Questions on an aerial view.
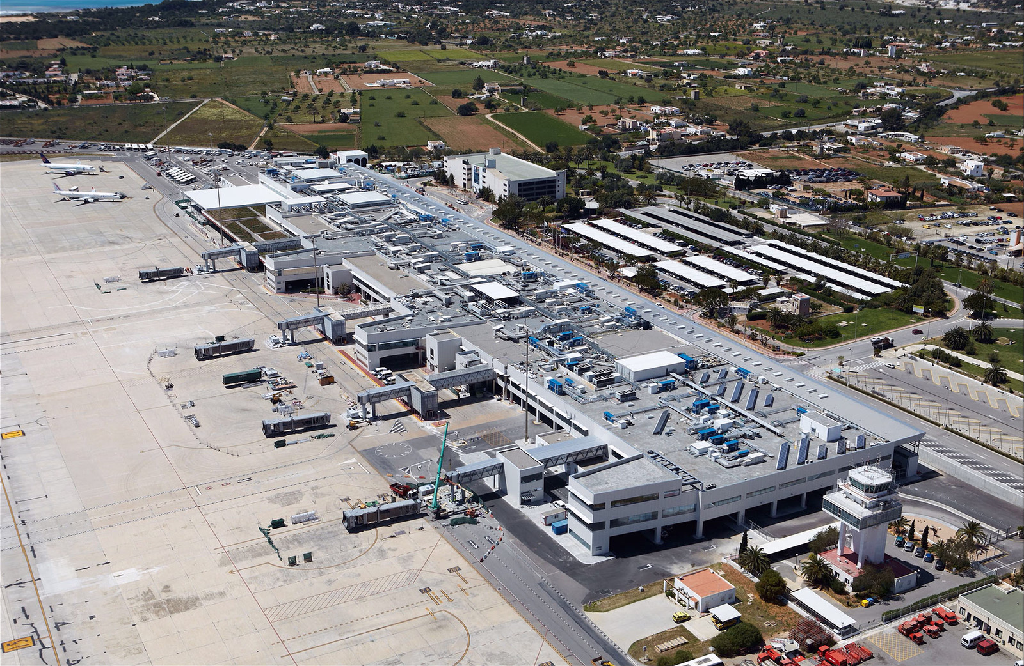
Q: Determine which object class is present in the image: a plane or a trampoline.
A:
plane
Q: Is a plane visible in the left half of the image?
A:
Yes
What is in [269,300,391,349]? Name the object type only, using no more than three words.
jet bridge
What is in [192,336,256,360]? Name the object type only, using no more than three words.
jet bridge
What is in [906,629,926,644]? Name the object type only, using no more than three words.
work vehicle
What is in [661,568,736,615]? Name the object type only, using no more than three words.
house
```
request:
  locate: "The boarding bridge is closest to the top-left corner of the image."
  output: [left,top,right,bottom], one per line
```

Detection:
[137,263,185,280]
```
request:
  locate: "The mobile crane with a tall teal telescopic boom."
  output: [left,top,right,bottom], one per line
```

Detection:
[416,421,460,527]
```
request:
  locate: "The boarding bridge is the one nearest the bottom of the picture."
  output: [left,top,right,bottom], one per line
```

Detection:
[340,495,423,532]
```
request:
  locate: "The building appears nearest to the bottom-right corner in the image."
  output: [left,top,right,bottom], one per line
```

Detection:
[956,574,1024,655]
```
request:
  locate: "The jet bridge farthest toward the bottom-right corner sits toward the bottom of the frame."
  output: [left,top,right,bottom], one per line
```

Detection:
[441,442,622,517]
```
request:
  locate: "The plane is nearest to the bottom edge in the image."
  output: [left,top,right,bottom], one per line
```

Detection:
[48,174,118,204]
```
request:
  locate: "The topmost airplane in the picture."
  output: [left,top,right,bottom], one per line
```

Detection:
[34,148,99,174]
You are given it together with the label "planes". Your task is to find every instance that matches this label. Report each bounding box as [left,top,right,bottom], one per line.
[48,174,118,204]
[34,148,99,174]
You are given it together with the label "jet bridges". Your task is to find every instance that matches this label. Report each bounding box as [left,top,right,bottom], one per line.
[192,336,256,360]
[340,495,423,532]
[441,442,622,517]
[137,263,185,280]
[269,300,391,349]
[195,237,303,276]
[350,365,498,429]
[260,408,332,436]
